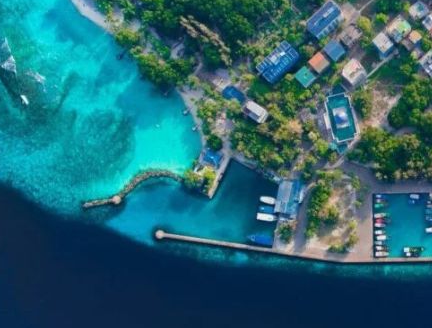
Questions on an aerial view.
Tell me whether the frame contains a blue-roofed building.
Yes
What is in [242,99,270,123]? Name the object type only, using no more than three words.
building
